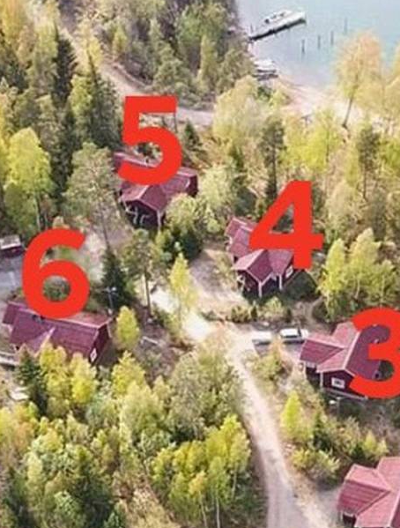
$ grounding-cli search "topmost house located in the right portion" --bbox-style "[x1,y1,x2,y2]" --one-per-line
[221,213,307,291]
